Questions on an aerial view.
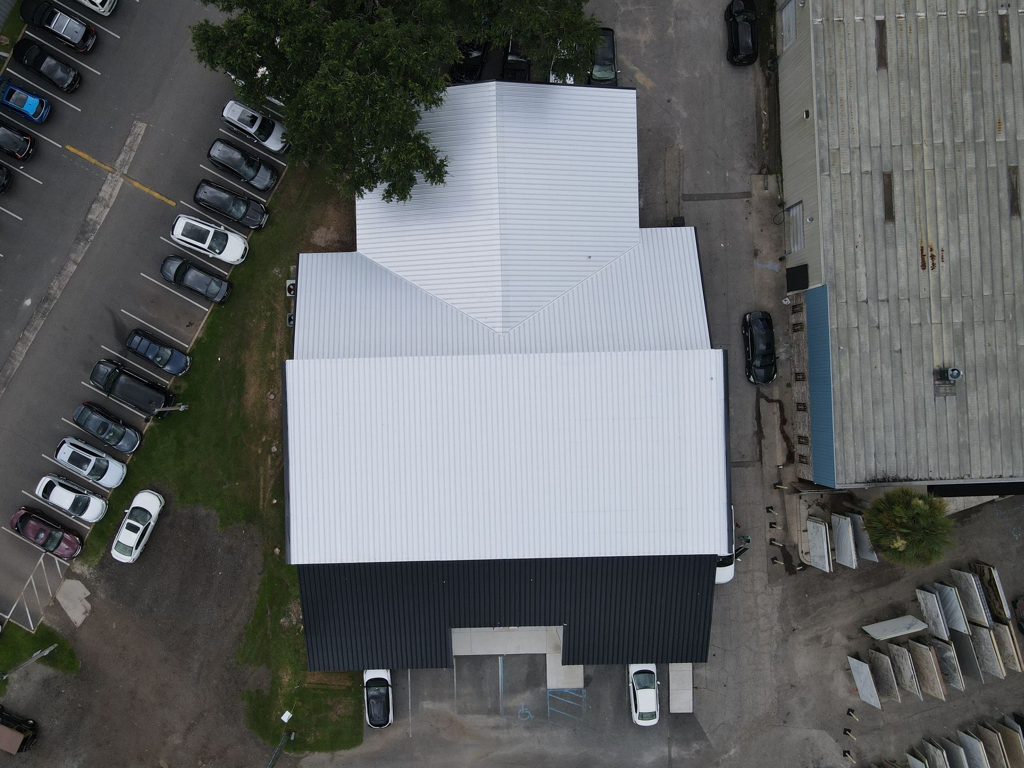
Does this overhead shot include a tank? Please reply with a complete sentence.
No, I can see no tank in this picture.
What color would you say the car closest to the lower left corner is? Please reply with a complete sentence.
The car closest to the lower left corner looks black in the image.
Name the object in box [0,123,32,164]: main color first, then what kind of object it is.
black car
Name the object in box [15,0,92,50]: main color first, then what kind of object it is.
black car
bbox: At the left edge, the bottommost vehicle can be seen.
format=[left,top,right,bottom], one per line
[0,703,45,757]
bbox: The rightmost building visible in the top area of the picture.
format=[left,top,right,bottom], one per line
[772,0,1024,488]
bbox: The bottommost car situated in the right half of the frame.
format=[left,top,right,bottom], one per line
[629,664,661,731]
